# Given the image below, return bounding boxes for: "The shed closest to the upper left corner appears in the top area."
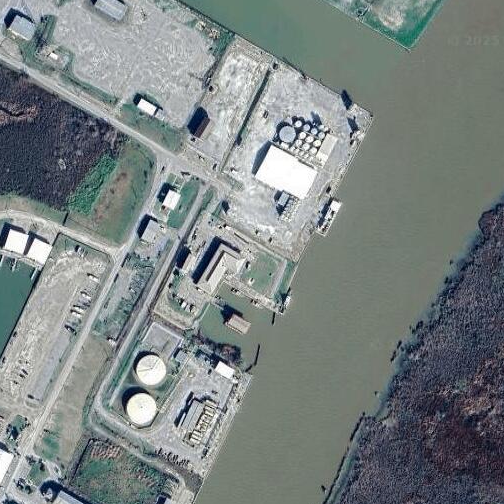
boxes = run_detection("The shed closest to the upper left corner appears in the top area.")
[8,15,35,39]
